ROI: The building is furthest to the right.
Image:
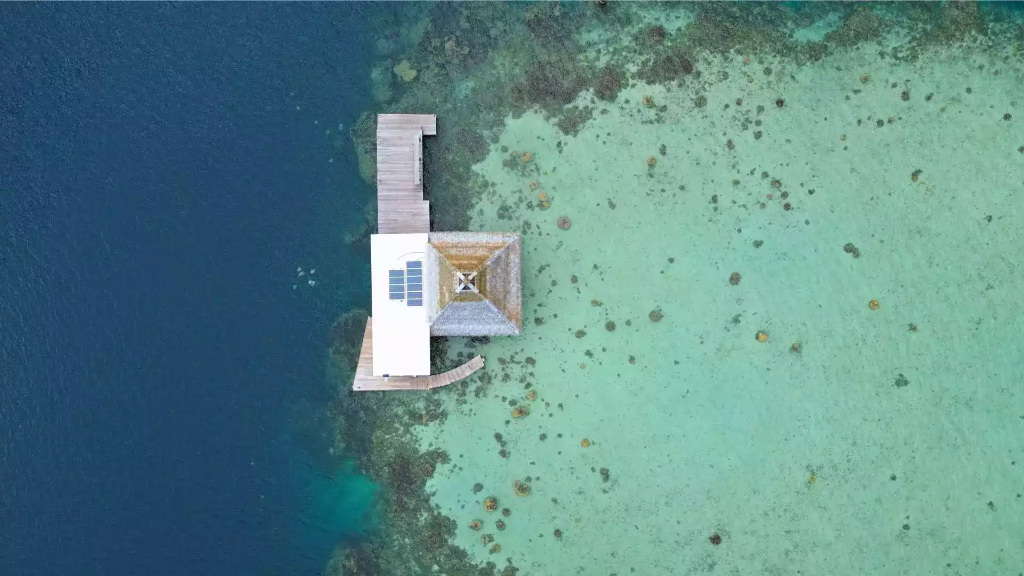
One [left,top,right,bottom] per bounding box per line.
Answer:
[424,231,521,337]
